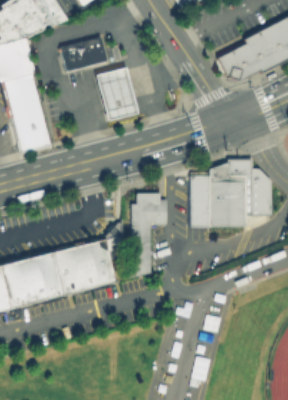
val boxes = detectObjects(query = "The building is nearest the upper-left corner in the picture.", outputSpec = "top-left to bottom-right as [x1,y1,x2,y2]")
[0,0,68,44]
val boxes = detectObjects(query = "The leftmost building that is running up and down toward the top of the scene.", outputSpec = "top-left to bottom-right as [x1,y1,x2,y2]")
[0,38,53,152]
